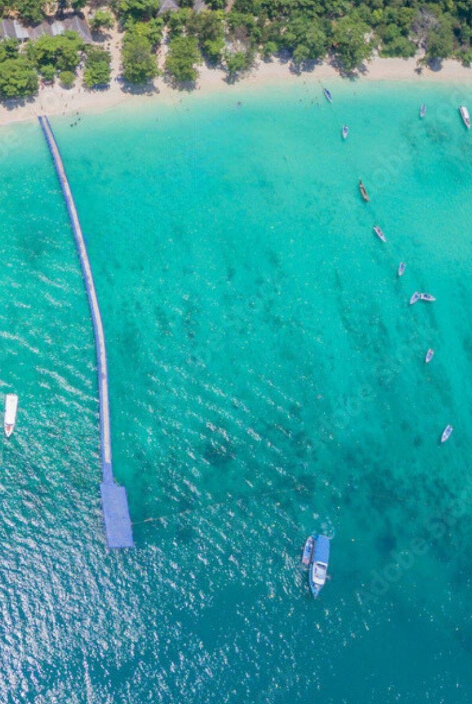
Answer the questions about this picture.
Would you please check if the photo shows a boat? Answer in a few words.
Yes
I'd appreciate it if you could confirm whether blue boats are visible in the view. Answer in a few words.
Yes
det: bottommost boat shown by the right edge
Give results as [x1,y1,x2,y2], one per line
[441,422,455,443]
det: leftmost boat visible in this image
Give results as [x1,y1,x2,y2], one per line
[5,391,17,437]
